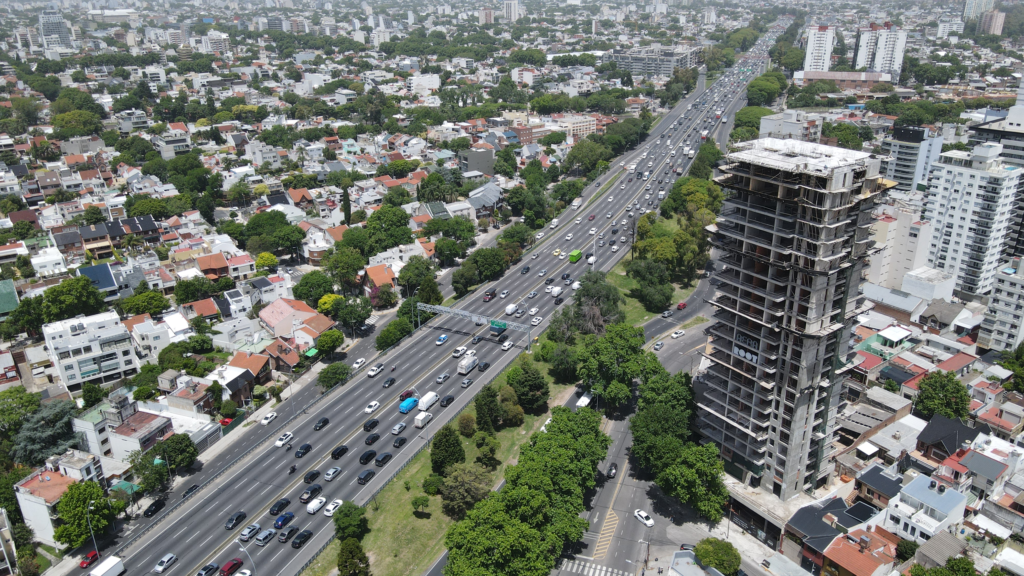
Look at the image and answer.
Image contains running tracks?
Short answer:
No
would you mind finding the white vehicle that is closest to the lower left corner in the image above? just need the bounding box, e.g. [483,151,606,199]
[92,546,133,576]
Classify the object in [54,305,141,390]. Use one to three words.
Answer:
building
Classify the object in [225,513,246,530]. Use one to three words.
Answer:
car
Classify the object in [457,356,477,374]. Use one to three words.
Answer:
vehicle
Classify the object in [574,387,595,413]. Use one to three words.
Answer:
bus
